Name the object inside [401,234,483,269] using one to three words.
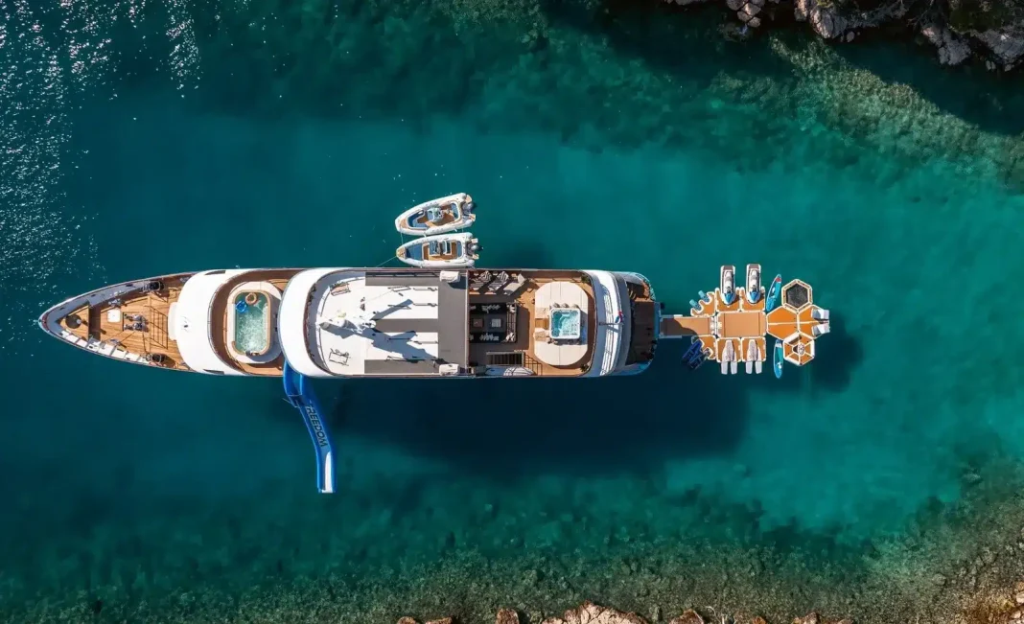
boat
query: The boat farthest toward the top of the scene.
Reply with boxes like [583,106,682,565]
[398,193,479,234]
